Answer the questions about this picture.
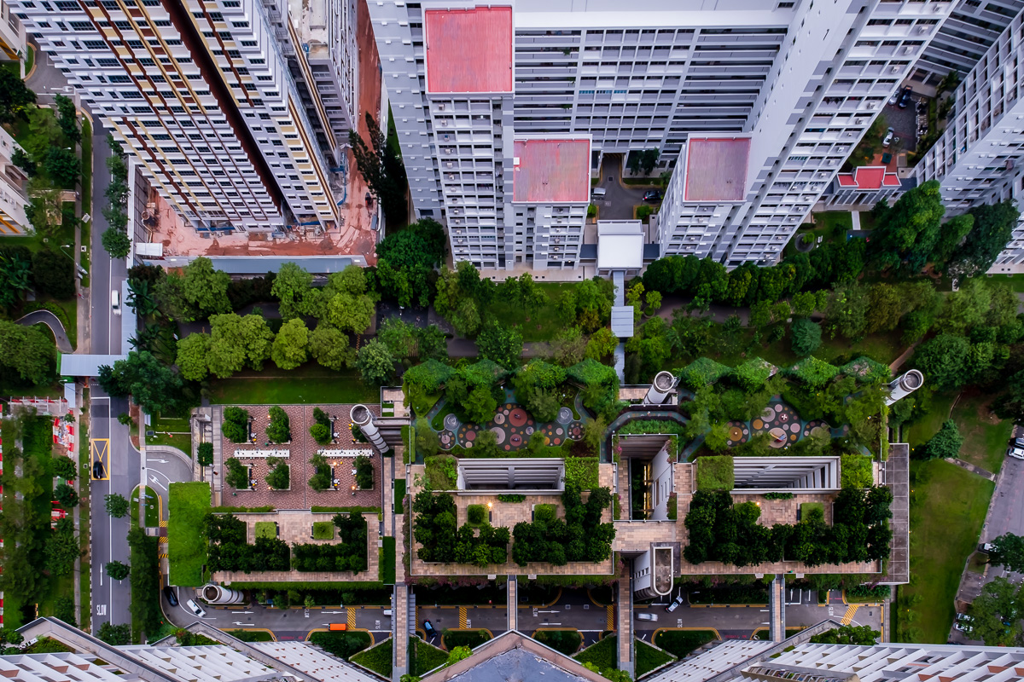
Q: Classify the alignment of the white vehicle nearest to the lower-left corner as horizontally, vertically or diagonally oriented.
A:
diagonally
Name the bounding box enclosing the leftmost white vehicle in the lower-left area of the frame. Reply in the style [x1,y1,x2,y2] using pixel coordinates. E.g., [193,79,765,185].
[185,597,208,618]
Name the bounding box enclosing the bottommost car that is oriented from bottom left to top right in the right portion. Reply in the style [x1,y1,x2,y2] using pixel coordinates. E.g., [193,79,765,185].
[663,594,684,614]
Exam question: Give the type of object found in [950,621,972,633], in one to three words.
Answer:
vehicle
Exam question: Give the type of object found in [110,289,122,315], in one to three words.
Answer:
vehicle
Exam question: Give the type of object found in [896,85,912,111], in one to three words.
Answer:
car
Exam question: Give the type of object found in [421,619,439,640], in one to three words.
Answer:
car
